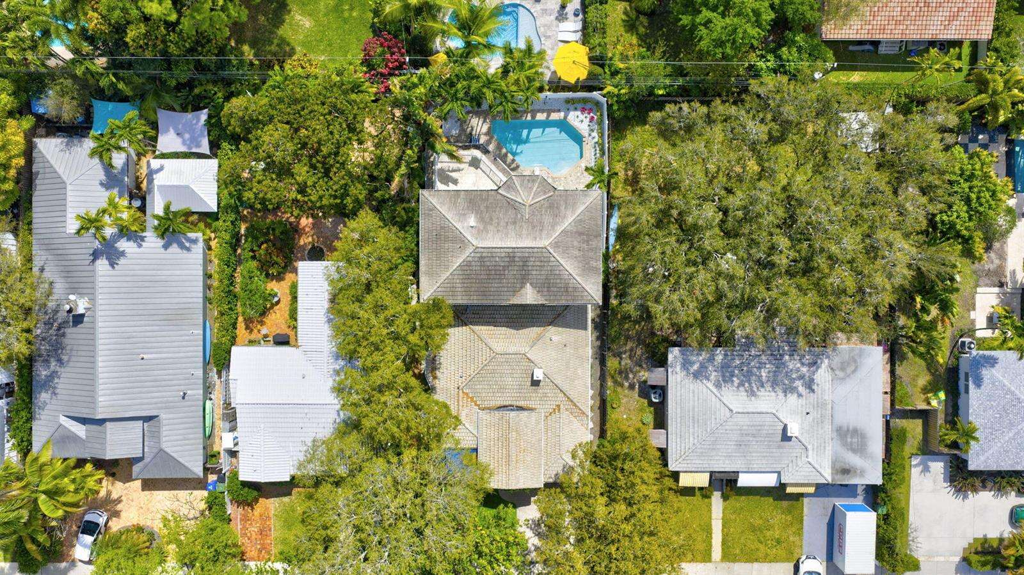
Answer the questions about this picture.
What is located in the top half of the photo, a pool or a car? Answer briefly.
pool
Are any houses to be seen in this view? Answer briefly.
Yes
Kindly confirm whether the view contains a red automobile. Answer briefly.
No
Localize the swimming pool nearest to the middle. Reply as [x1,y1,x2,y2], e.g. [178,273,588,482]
[487,115,587,178]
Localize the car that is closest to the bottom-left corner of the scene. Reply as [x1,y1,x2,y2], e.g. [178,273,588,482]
[74,507,113,564]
